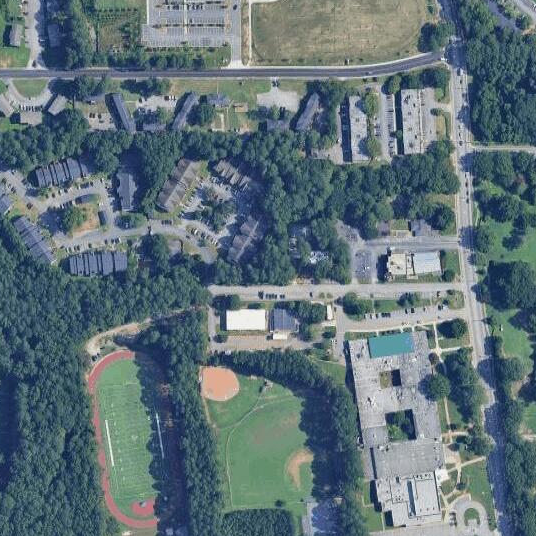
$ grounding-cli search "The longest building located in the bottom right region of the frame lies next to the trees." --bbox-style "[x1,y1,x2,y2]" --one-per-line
[350,331,449,526]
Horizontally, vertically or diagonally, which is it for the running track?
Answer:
vertically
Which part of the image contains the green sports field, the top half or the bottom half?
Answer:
bottom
